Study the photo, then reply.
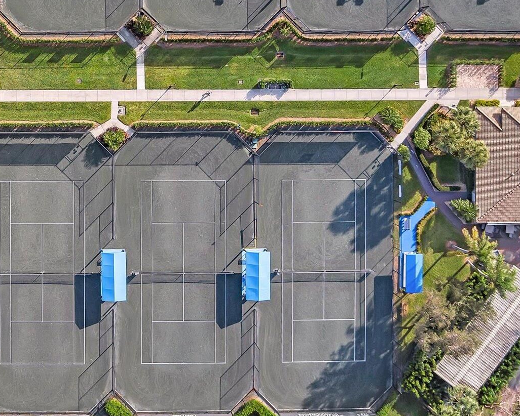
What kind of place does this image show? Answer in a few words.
sports ground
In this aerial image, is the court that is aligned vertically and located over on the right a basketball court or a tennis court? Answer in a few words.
tennis court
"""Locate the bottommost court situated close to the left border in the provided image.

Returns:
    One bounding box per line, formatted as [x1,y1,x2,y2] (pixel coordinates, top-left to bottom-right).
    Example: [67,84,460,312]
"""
[0,132,114,412]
